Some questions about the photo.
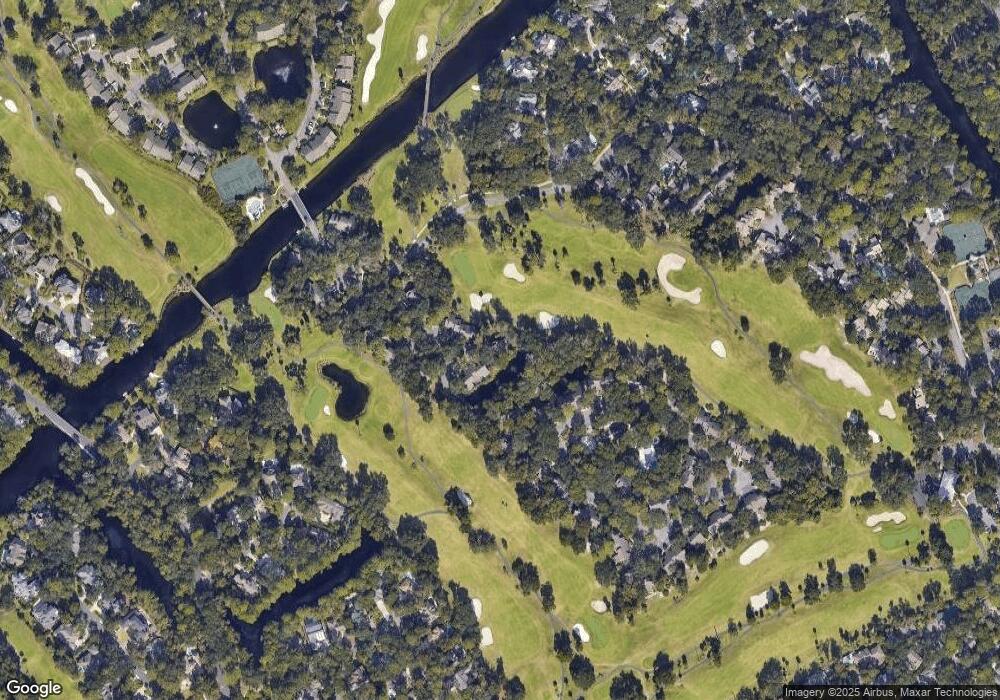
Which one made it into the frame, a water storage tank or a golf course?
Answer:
golf course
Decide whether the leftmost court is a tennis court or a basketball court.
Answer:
tennis court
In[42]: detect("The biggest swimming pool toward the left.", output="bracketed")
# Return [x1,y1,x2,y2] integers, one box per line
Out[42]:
[246,195,264,220]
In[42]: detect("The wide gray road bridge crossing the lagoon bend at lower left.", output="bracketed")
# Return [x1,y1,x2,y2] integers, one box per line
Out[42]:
[33,397,93,448]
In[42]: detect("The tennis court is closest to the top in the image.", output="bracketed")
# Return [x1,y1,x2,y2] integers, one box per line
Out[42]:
[213,155,266,204]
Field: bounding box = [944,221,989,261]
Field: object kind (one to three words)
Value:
tennis court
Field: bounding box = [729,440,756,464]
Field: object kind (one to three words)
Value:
house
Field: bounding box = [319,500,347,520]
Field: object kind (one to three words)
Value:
house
